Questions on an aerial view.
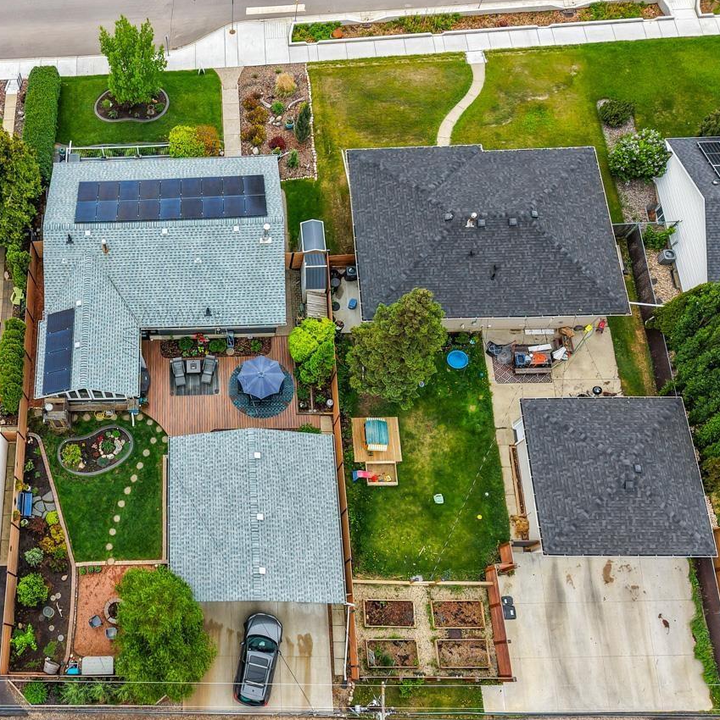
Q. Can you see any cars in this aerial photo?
Yes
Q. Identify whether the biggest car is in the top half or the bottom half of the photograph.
bottom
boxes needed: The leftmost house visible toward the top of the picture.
[31,154,287,407]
